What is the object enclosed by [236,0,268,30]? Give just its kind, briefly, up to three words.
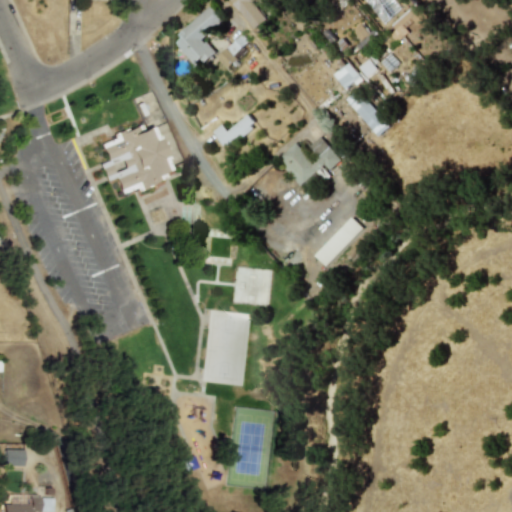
house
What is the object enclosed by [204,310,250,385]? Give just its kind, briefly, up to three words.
sports court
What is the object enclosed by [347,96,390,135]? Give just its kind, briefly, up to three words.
house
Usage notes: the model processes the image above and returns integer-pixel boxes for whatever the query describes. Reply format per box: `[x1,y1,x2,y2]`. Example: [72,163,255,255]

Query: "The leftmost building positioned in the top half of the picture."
[102,122,182,194]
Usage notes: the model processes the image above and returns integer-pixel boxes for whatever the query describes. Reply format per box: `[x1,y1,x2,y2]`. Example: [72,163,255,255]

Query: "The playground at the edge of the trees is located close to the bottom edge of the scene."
[170,386,230,489]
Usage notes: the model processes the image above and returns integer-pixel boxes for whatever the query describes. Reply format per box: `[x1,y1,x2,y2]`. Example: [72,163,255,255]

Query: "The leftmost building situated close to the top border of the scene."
[176,8,218,63]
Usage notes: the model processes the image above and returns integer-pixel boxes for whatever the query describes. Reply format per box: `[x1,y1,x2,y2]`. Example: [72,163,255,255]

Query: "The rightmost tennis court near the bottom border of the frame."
[228,407,275,486]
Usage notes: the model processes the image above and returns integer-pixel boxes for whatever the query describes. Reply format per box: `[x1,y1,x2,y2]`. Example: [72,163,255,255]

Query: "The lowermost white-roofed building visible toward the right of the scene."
[314,216,365,266]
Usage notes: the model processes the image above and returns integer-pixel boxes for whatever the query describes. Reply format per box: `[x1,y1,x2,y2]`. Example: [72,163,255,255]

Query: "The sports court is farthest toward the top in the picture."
[234,266,272,306]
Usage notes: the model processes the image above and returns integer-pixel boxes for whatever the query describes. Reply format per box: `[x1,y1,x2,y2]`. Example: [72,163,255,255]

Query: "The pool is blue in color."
[176,60,190,75]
